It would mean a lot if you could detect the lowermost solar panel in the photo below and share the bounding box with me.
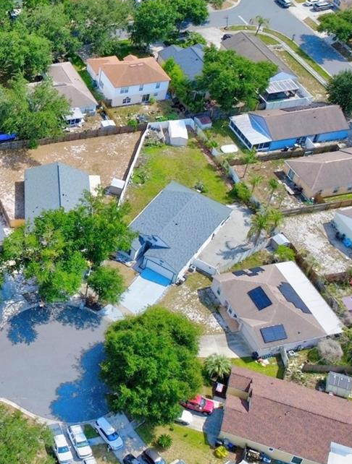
[261,325,287,343]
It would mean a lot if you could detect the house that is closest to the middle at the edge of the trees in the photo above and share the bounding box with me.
[119,181,225,287]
